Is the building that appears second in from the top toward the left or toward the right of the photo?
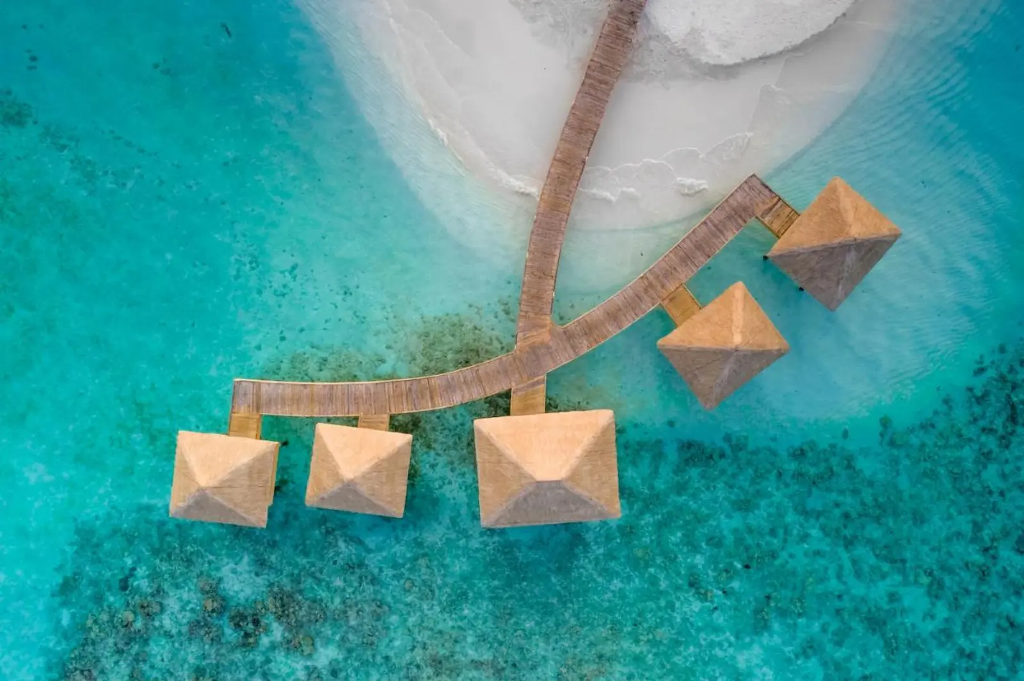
right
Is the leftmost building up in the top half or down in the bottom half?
bottom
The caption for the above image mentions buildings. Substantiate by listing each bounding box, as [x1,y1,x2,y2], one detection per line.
[760,176,903,311]
[472,409,621,527]
[169,429,292,529]
[656,282,791,410]
[306,422,415,519]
